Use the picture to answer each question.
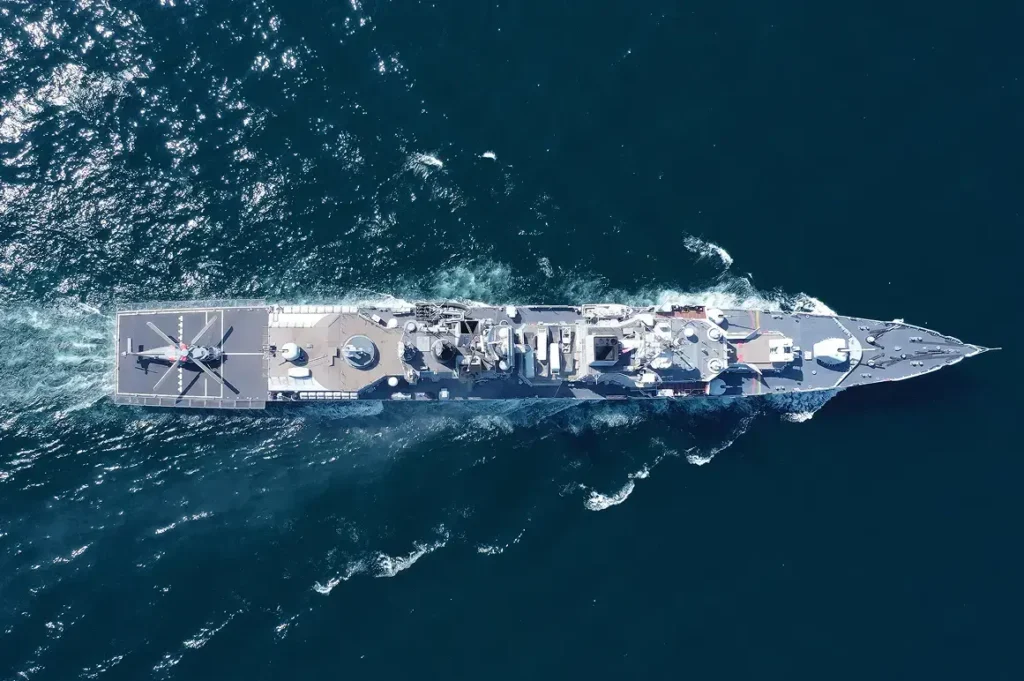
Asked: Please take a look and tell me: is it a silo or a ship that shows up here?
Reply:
ship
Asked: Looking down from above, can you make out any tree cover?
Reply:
No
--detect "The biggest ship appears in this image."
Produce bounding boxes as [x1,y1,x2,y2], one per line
[115,299,1002,410]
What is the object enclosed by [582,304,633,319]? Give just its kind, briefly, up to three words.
boat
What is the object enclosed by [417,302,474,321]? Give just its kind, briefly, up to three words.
boat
